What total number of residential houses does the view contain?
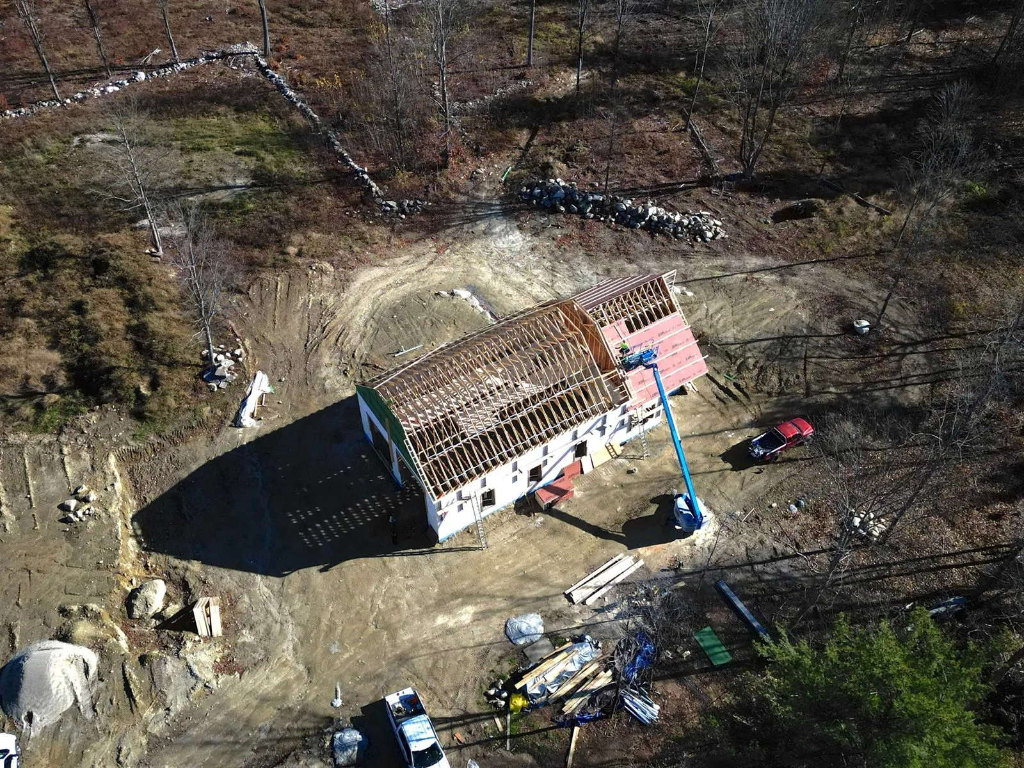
one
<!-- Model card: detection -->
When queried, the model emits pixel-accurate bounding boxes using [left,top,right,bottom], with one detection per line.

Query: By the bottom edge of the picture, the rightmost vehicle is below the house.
[381,681,446,768]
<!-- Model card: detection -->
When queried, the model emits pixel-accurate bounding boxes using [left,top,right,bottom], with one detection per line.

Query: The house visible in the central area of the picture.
[353,272,713,543]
